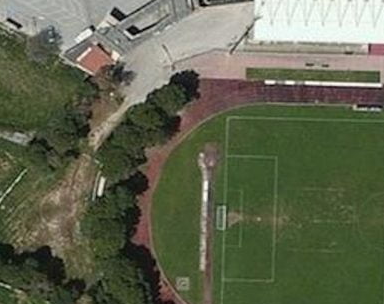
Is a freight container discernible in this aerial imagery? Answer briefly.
No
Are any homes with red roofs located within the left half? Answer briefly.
Yes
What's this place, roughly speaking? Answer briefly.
sports ground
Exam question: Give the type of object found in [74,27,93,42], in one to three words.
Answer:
vehicle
